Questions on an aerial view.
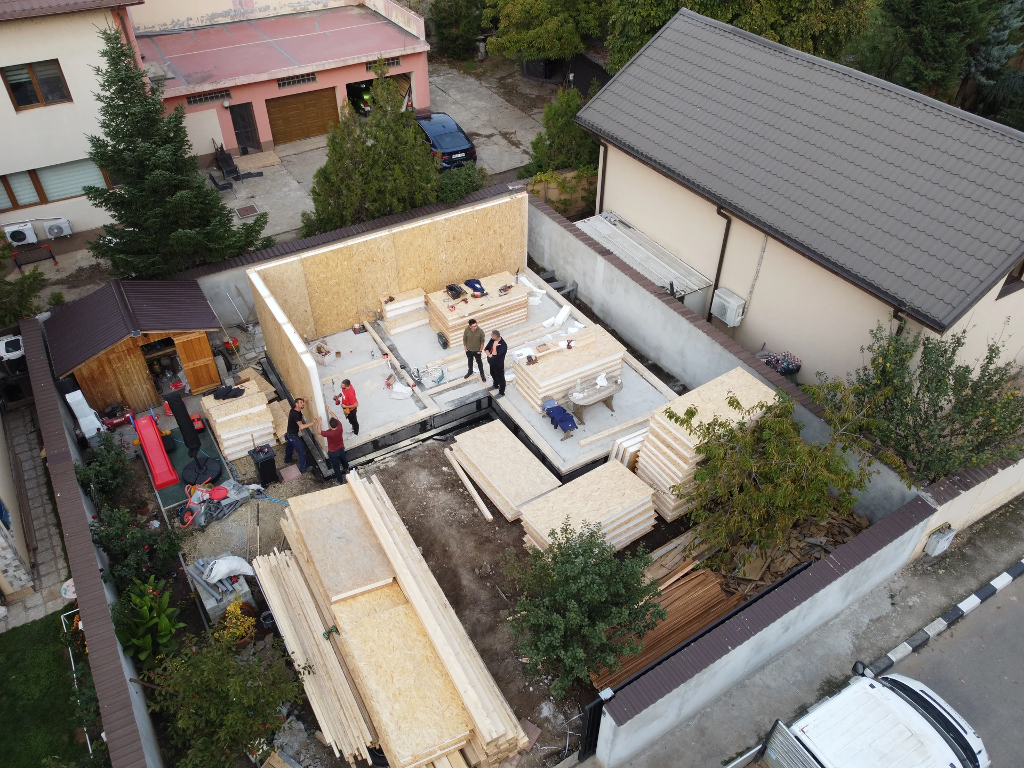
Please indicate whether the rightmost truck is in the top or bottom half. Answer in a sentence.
You can find the rightmost truck in the bottom half.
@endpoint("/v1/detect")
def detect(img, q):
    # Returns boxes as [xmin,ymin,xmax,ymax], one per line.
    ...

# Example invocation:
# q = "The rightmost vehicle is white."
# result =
[741,660,981,768]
